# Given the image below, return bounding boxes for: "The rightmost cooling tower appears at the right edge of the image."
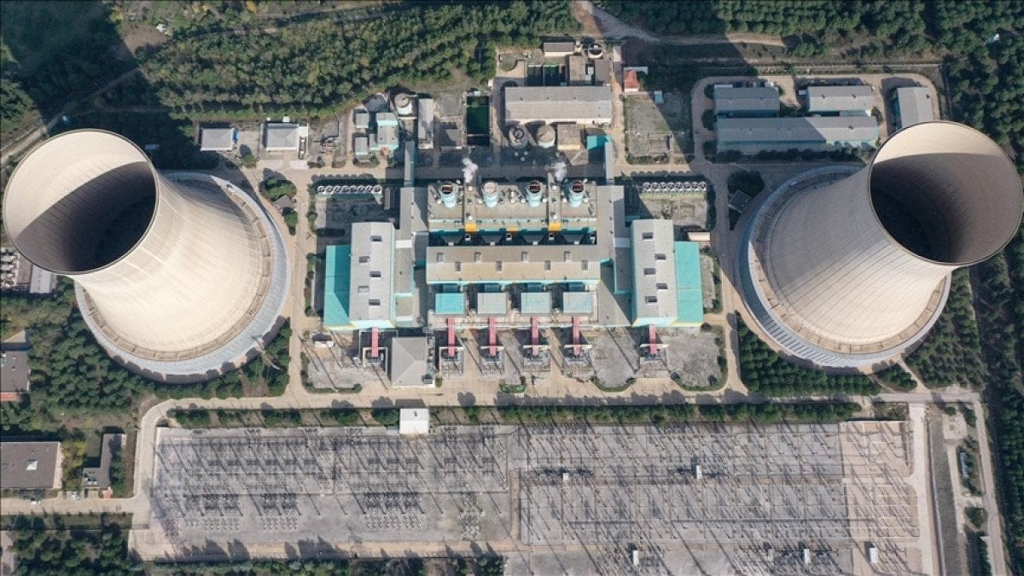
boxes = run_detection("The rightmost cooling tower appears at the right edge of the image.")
[738,118,1024,374]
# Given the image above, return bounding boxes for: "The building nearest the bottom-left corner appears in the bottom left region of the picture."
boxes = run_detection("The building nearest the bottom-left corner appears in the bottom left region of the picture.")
[0,441,68,489]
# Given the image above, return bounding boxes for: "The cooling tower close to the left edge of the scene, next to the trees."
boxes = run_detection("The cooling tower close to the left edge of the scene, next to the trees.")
[2,126,290,381]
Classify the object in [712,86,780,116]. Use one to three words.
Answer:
building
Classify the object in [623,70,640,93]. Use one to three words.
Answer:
house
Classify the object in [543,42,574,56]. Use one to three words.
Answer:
house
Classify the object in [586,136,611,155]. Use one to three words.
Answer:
building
